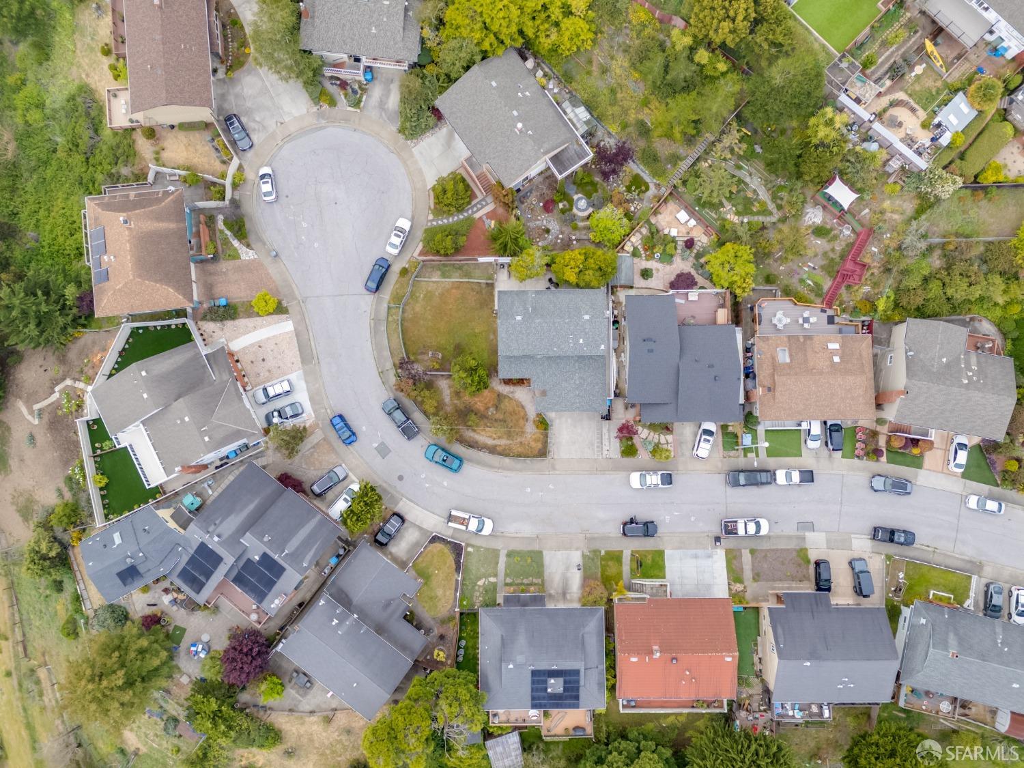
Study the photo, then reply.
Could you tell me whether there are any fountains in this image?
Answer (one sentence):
Yes, a fountain appears in the view.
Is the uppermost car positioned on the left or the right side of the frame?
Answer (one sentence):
You can find the uppermost car on the left side of the picture.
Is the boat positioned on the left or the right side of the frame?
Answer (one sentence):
The boat sits on the right side.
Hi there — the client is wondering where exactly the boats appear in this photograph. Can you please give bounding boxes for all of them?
[924,39,946,72]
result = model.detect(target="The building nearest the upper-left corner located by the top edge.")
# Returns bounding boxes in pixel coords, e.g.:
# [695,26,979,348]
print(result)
[101,0,228,135]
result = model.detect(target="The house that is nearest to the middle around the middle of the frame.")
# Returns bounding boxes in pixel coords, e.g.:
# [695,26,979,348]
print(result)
[498,288,608,413]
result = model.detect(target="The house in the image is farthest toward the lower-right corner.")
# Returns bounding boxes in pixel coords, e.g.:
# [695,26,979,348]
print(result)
[892,599,1024,739]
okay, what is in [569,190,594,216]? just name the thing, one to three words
fountain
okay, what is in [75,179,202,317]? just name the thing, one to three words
house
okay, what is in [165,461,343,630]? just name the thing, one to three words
house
